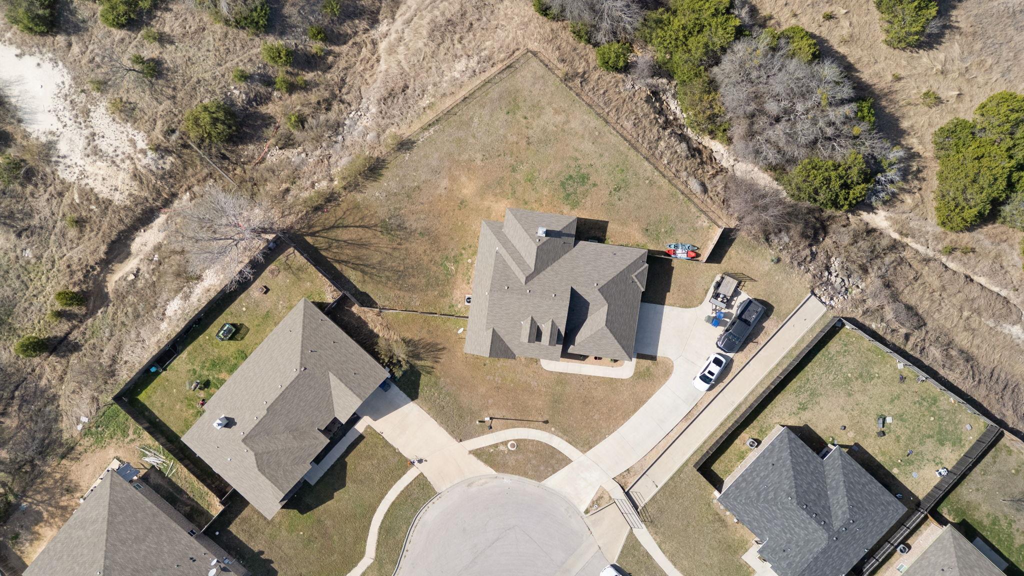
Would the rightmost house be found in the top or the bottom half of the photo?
bottom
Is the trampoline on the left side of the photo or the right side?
left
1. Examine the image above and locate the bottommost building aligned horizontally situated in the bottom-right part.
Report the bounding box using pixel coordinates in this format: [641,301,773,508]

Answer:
[881,521,1006,576]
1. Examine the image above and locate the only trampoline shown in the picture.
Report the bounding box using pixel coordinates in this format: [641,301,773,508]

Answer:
[213,322,238,342]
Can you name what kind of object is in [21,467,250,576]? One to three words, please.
house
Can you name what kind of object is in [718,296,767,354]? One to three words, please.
truck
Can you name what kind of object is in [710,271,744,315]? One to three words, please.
trailer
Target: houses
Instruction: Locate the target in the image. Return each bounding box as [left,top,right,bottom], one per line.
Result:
[718,426,908,576]
[181,298,389,520]
[21,467,250,576]
[464,207,649,362]
[881,521,1006,576]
